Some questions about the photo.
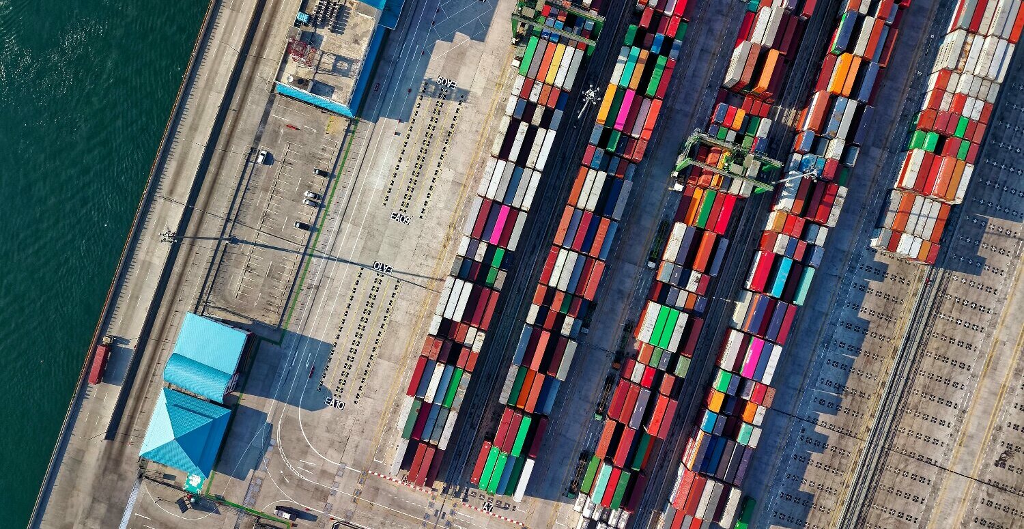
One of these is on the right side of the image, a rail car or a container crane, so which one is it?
container crane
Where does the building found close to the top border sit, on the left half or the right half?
left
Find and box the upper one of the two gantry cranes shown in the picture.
[504,0,609,69]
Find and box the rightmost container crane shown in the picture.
[663,130,787,203]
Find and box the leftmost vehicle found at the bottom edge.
[275,504,299,521]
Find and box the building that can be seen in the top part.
[275,0,405,120]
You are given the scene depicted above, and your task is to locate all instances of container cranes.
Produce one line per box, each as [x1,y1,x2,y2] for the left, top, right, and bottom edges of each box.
[663,130,787,203]
[504,0,609,69]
